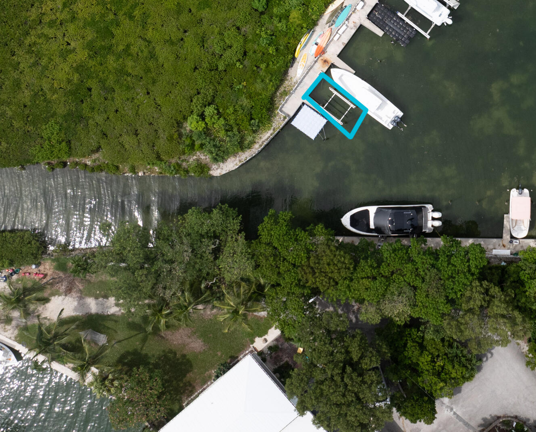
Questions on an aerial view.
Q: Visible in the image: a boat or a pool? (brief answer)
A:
boat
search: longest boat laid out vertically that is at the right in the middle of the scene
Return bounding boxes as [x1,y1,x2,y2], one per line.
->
[510,179,530,238]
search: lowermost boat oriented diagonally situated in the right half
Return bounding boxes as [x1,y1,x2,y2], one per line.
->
[331,68,411,136]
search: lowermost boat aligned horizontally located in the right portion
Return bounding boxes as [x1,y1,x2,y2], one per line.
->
[341,204,442,234]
